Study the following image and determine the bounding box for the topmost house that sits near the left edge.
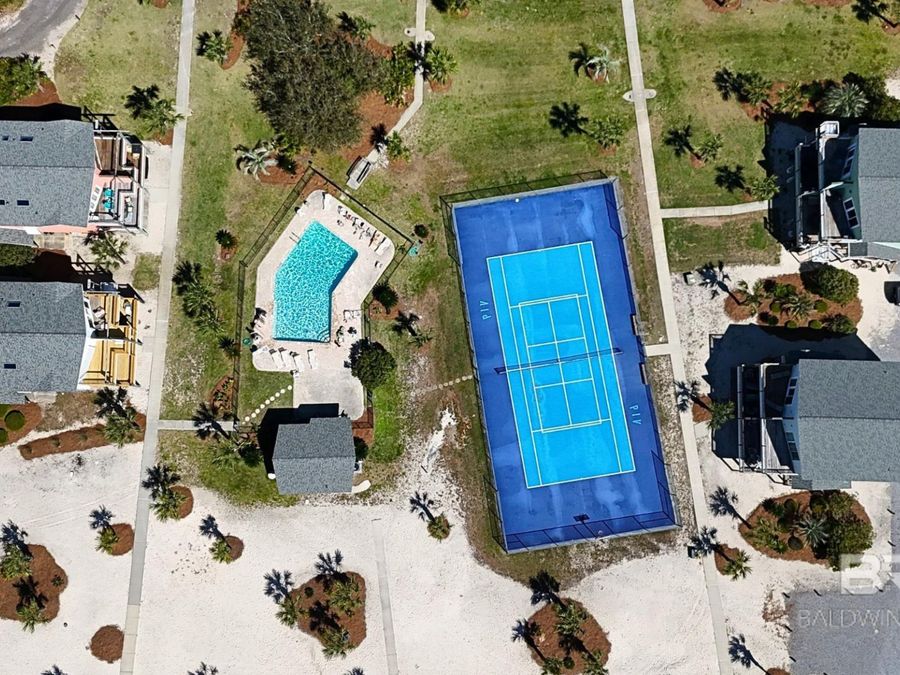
[0,122,150,252]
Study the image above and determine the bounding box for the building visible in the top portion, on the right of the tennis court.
[791,120,900,268]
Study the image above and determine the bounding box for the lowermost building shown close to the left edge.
[0,282,140,405]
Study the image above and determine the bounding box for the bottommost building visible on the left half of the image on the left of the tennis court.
[272,417,358,494]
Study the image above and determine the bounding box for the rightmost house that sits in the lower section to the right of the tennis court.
[735,359,900,493]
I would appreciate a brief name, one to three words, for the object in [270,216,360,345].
swimming pool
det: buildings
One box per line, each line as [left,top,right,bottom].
[0,282,140,405]
[272,417,358,494]
[0,122,150,252]
[791,120,900,268]
[735,359,900,493]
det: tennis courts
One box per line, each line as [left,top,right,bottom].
[453,181,679,553]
